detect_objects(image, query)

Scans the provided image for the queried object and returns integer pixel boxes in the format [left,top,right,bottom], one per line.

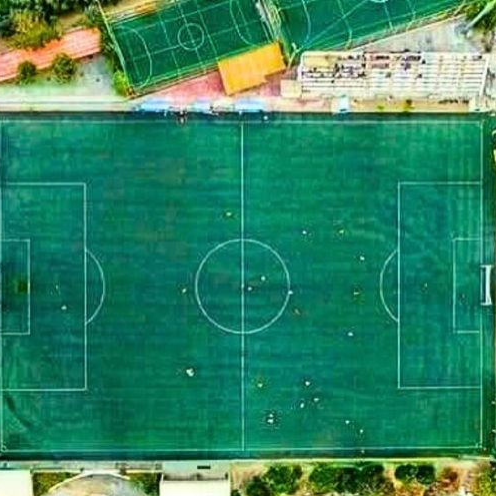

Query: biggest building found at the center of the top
[218,41,285,98]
